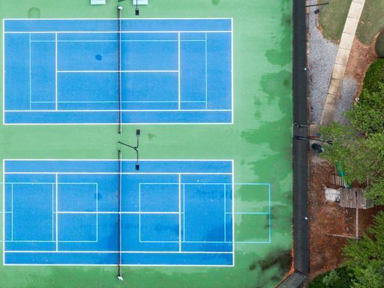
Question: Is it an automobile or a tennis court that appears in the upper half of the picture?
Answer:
tennis court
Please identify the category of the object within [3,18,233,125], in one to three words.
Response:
tennis court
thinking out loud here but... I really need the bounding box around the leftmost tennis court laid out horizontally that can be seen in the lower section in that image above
[0,159,271,267]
